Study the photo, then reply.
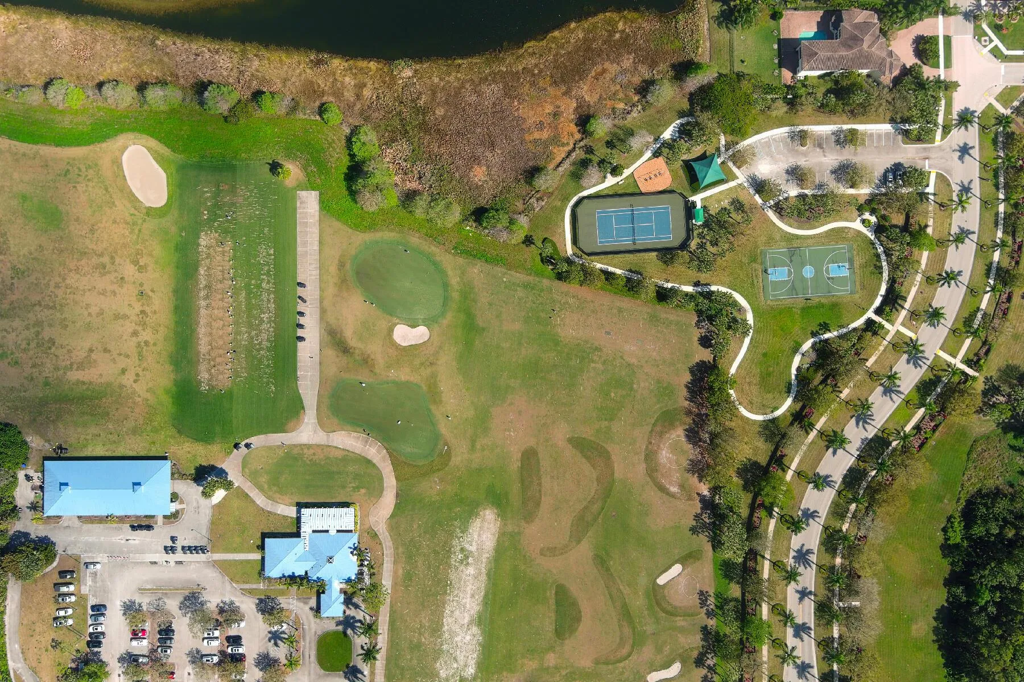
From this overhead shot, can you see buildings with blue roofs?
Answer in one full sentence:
Yes, the picture does show a building with a blue roof.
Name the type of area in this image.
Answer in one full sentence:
The area seen from above is a golf course.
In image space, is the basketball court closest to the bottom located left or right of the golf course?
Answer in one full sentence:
Compared with the golf course, the basketball court closest to the bottom is located further to the right.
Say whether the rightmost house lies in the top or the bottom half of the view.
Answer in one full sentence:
The rightmost house sits in the top half of the picture.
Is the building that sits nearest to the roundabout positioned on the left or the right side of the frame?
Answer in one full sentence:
The building that sits nearest to the roundabout appears in the left half of the scene.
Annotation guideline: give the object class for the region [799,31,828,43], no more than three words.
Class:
swimming pool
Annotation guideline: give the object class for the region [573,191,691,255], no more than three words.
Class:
tennis court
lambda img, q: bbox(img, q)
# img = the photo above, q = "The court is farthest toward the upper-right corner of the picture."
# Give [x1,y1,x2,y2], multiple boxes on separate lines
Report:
[763,244,856,300]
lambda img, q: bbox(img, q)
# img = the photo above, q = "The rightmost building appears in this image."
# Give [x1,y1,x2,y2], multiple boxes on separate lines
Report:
[795,10,904,87]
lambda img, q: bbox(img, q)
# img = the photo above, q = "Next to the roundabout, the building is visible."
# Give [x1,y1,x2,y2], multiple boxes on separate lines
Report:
[265,507,358,617]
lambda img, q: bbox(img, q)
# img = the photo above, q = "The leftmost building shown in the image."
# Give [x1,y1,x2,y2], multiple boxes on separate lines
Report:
[44,460,178,516]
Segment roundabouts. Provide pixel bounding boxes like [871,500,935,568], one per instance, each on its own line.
[316,629,353,673]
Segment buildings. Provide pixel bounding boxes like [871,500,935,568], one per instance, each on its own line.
[265,507,358,617]
[44,460,178,516]
[795,10,904,87]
